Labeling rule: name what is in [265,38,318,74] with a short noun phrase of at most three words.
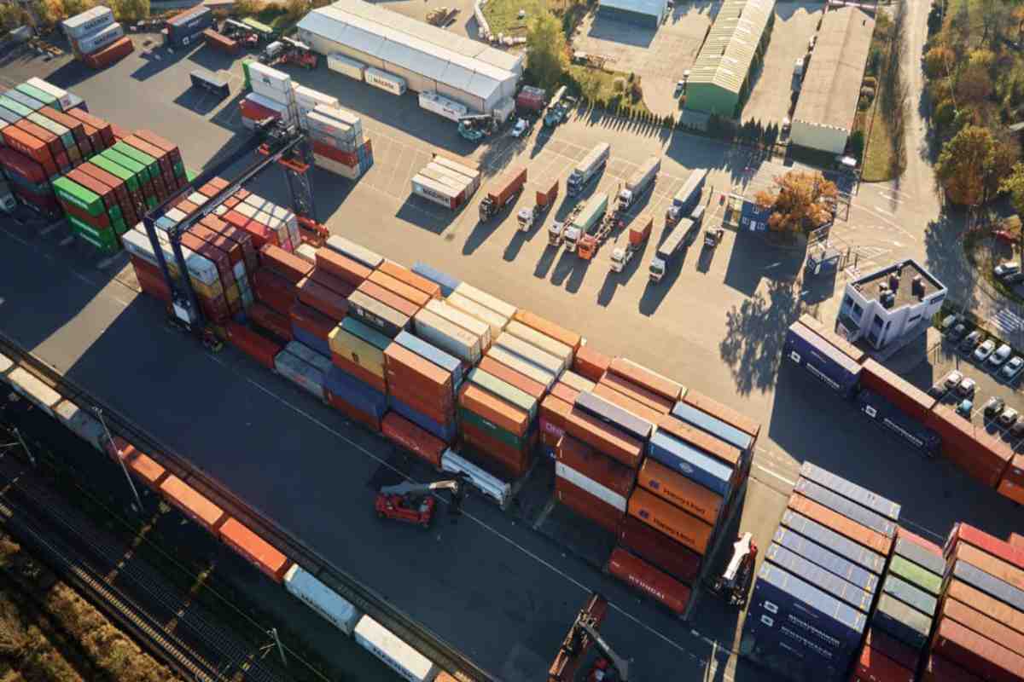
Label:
work vehicle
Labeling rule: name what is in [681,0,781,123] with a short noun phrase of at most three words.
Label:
building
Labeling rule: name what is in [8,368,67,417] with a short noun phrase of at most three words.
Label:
shipping container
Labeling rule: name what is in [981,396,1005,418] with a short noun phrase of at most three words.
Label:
car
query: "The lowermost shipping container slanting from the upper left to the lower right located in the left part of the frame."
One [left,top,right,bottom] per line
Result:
[356,616,438,682]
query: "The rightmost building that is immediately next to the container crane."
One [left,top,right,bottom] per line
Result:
[289,0,527,115]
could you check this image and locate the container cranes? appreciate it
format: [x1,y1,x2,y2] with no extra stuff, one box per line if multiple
[133,113,330,348]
